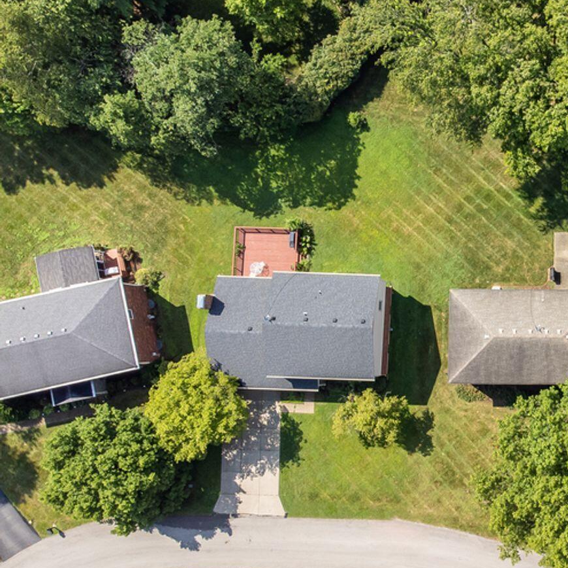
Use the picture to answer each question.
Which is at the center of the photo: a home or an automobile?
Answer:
home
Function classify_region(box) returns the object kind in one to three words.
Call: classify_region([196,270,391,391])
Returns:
house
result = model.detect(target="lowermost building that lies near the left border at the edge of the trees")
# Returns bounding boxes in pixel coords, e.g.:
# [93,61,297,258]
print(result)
[0,275,161,409]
